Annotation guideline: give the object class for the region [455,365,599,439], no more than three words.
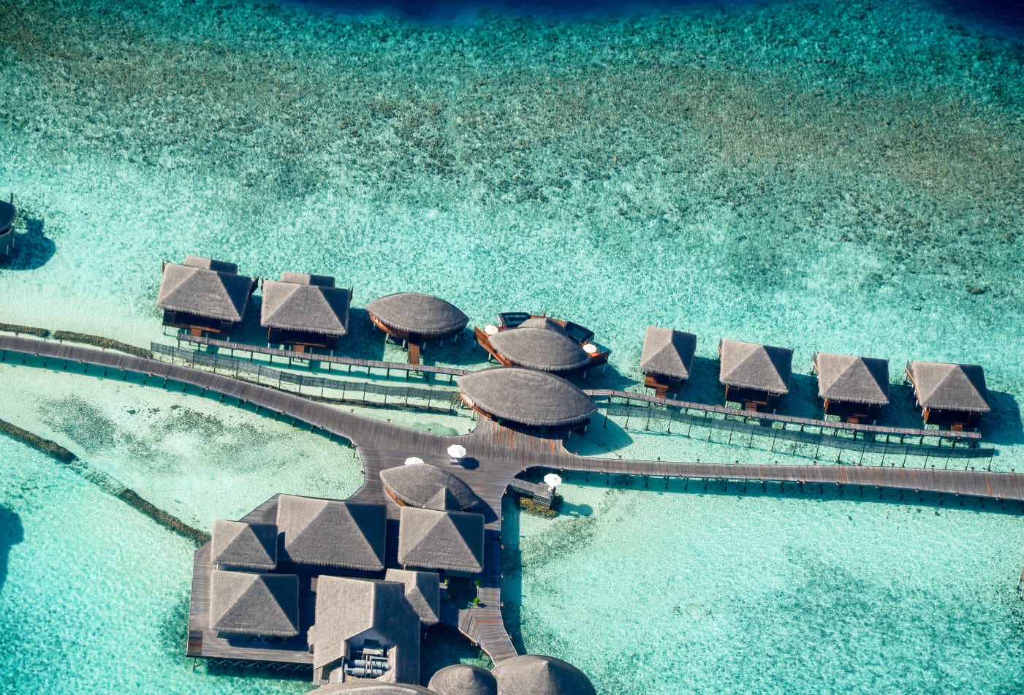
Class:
building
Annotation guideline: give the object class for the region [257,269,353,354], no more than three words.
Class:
house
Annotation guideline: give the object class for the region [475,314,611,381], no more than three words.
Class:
building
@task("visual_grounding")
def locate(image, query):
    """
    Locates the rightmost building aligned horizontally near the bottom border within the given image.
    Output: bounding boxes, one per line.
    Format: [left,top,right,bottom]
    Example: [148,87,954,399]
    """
[491,651,599,695]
